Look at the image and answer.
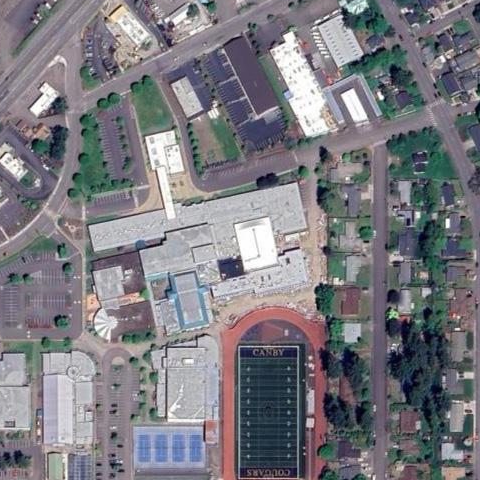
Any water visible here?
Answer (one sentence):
No, the picture contains no water.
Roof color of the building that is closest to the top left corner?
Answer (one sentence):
The color of the roof on the building that is closest to the top left corner is white.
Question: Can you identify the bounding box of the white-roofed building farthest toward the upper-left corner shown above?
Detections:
[30,81,59,116]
